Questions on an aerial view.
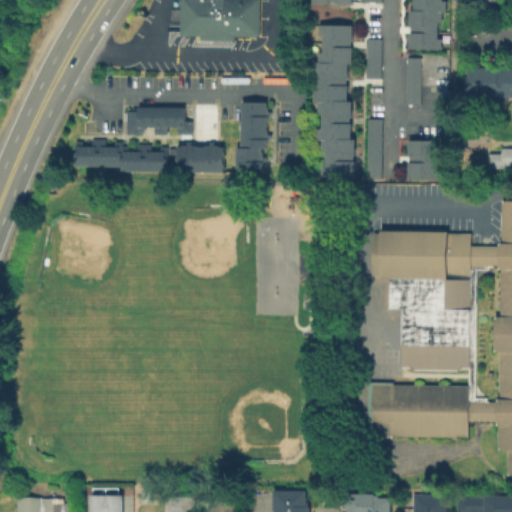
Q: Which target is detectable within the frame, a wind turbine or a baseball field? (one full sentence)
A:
Visible in the photo is a baseball field.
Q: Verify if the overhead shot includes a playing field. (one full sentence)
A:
Yes, a playing field is visible in the scene.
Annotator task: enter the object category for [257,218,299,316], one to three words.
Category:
basketball court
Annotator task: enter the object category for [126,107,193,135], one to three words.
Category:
building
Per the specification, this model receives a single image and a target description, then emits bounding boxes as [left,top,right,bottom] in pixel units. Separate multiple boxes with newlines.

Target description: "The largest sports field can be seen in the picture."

[14,182,308,482]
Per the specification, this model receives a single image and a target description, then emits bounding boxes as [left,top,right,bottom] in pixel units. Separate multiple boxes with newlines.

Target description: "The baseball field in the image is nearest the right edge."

[220,371,310,476]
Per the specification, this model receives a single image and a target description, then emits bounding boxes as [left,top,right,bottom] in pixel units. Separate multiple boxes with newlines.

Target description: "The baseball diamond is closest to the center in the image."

[163,200,257,293]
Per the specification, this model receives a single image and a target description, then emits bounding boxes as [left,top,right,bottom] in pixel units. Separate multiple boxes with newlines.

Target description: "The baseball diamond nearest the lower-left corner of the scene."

[20,432,77,475]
